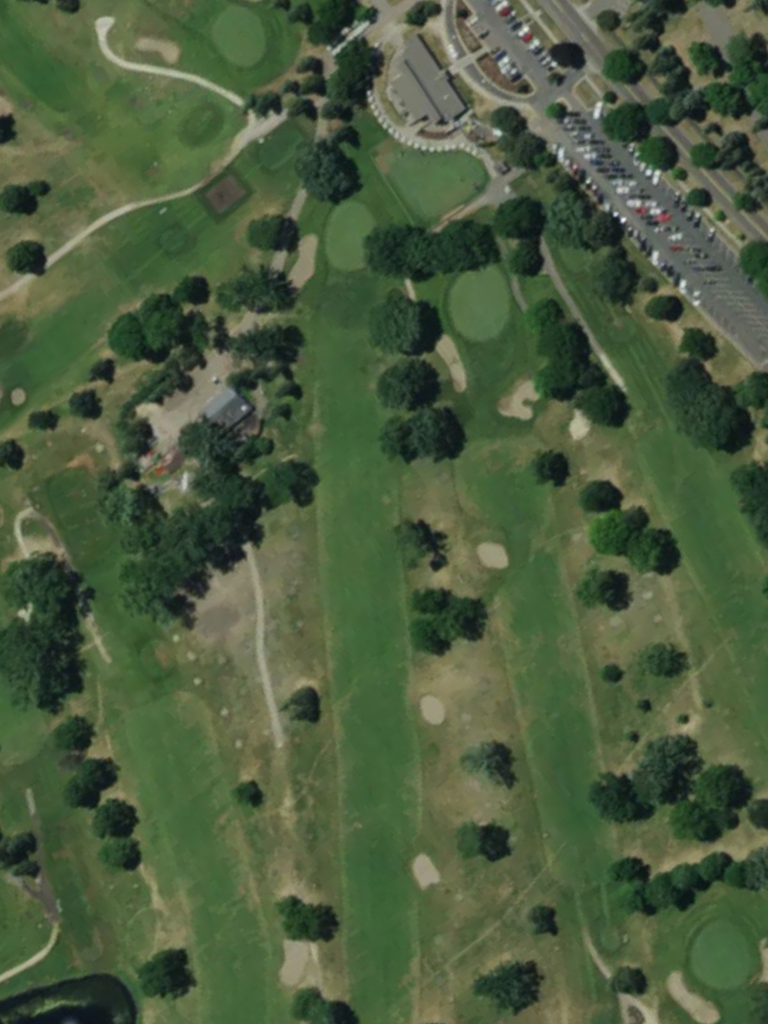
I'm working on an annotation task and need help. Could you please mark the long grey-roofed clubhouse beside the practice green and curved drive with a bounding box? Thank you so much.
[392,34,467,126]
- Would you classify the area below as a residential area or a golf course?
golf course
